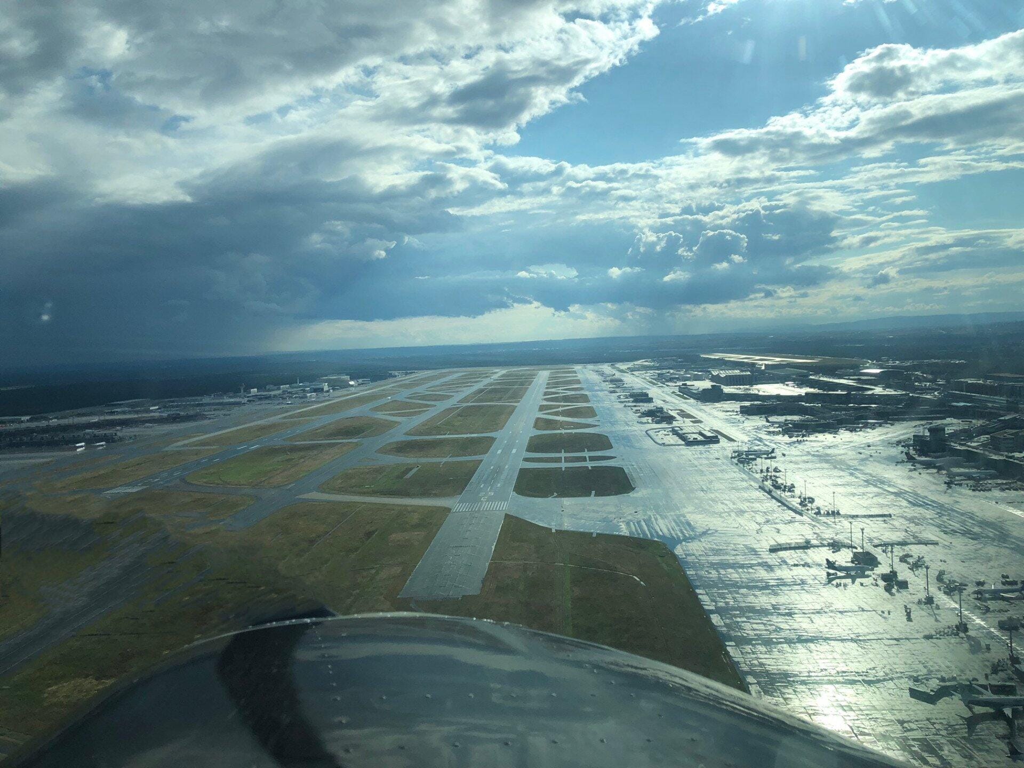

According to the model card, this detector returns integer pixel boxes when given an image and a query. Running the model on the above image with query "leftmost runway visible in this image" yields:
[93,371,466,498]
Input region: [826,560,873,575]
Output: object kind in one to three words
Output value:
airplane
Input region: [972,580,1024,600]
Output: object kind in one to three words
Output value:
airplane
